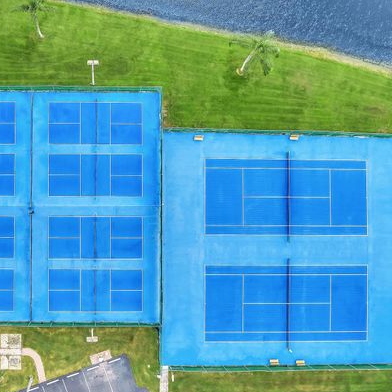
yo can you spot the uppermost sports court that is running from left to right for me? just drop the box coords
[49,102,143,145]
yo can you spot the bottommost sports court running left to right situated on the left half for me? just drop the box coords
[48,269,143,313]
